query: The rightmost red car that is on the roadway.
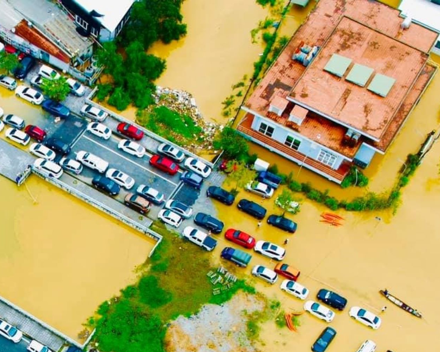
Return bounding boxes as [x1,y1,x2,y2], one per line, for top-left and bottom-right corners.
[149,157,181,176]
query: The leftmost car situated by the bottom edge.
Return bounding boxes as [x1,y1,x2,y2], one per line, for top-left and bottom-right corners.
[0,318,24,345]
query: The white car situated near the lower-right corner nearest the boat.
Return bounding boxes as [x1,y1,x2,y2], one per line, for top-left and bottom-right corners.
[348,308,383,330]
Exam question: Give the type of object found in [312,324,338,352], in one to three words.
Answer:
car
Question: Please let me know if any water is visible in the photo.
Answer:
Yes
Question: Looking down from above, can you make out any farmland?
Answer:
No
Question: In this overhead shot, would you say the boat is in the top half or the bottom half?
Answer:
bottom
